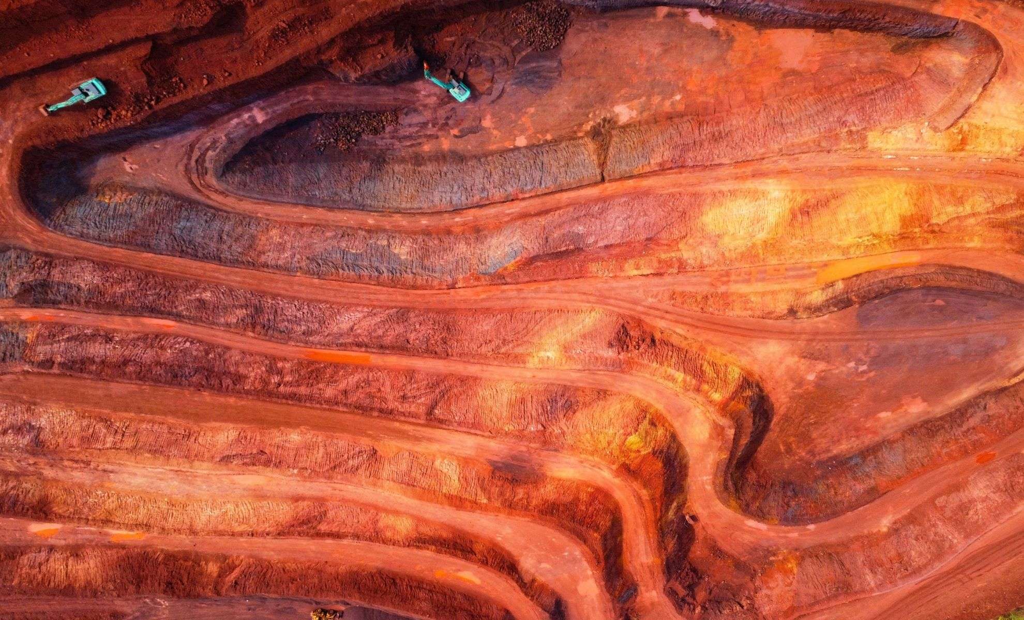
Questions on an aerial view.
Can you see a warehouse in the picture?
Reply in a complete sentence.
No, I can see no warehouse in this picture.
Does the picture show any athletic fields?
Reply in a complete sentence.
No, there's no athletic field here.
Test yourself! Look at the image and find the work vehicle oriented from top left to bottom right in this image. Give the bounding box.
[424,58,470,100]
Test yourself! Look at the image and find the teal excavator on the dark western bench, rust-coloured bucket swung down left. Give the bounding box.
[45,74,102,115]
